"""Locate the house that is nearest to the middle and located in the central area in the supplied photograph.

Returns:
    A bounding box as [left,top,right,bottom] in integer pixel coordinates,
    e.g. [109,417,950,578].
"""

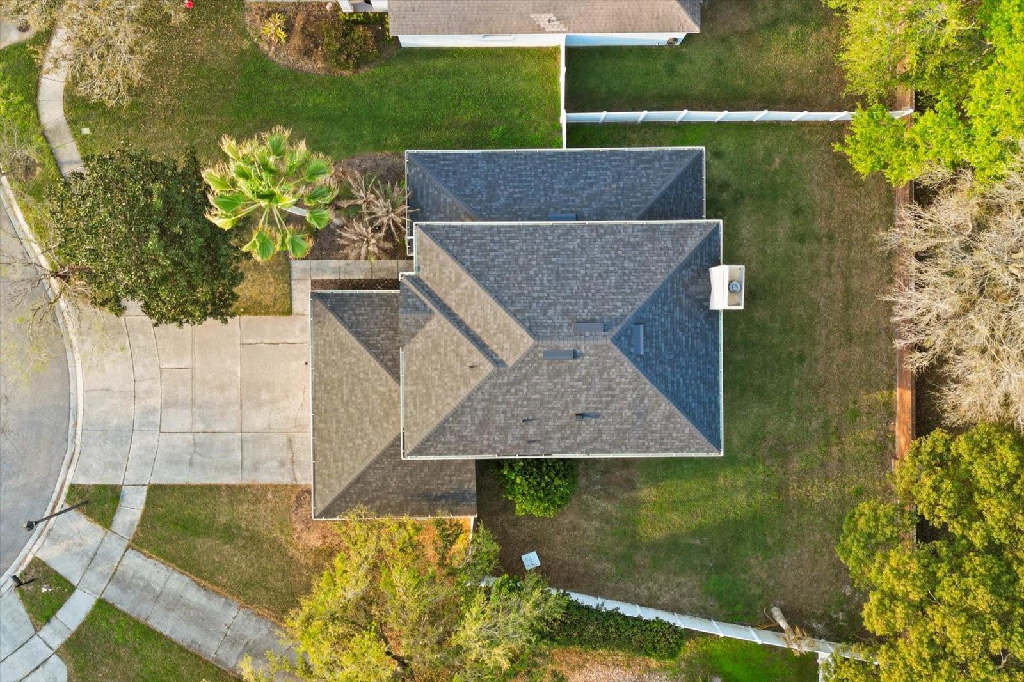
[308,146,745,522]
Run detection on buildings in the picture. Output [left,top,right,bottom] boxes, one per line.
[308,146,745,522]
[335,0,703,47]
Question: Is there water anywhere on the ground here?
No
